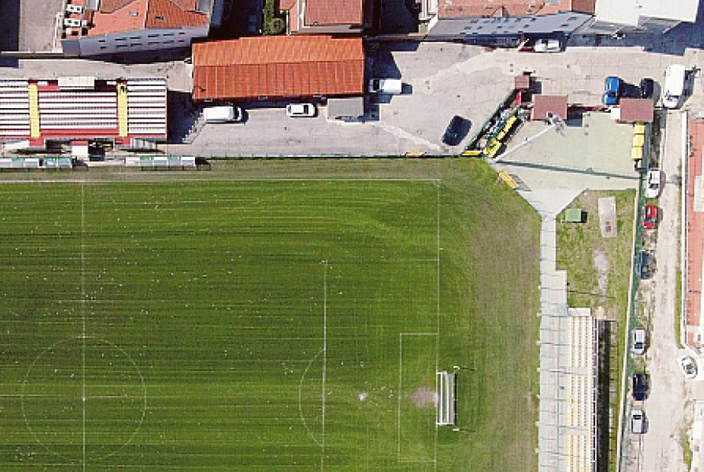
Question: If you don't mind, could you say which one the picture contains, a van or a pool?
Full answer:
Of the two, only a van appears.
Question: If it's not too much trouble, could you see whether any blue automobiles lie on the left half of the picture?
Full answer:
No, I can find no blue automobile on the left half of the picture.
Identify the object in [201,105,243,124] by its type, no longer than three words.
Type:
vehicle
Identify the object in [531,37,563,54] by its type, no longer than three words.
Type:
car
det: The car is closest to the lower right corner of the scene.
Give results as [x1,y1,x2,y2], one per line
[629,409,646,434]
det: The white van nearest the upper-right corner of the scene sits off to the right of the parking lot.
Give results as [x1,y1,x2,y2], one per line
[659,61,687,111]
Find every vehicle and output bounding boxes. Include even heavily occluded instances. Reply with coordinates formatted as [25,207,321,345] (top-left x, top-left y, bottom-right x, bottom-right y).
[631,373,648,400]
[286,104,316,118]
[659,61,687,111]
[444,116,468,147]
[201,105,243,124]
[637,75,655,99]
[531,37,563,54]
[636,250,654,279]
[369,77,404,95]
[629,409,646,434]
[643,168,662,198]
[629,329,647,355]
[604,74,622,103]
[642,203,660,231]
